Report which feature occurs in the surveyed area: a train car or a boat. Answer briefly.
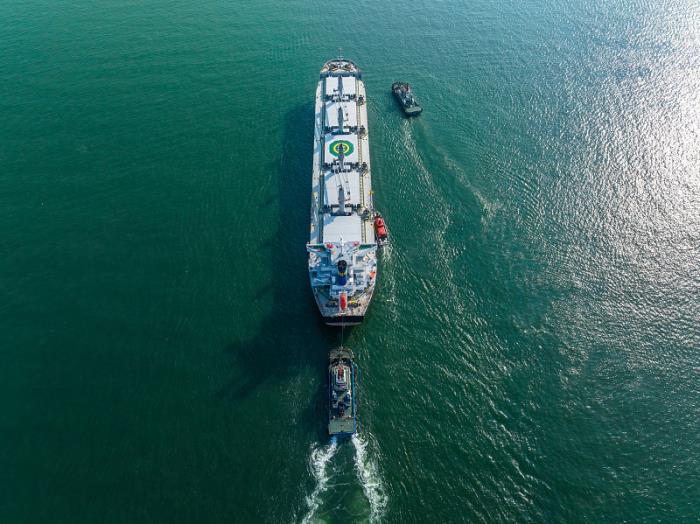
boat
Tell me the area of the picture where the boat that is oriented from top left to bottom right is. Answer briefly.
top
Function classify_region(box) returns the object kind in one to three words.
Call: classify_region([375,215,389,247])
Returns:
boat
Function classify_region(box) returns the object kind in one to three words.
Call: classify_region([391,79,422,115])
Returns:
boat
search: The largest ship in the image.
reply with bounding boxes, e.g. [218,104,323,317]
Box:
[306,46,379,326]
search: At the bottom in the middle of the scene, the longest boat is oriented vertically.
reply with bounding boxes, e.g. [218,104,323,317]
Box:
[327,346,358,436]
